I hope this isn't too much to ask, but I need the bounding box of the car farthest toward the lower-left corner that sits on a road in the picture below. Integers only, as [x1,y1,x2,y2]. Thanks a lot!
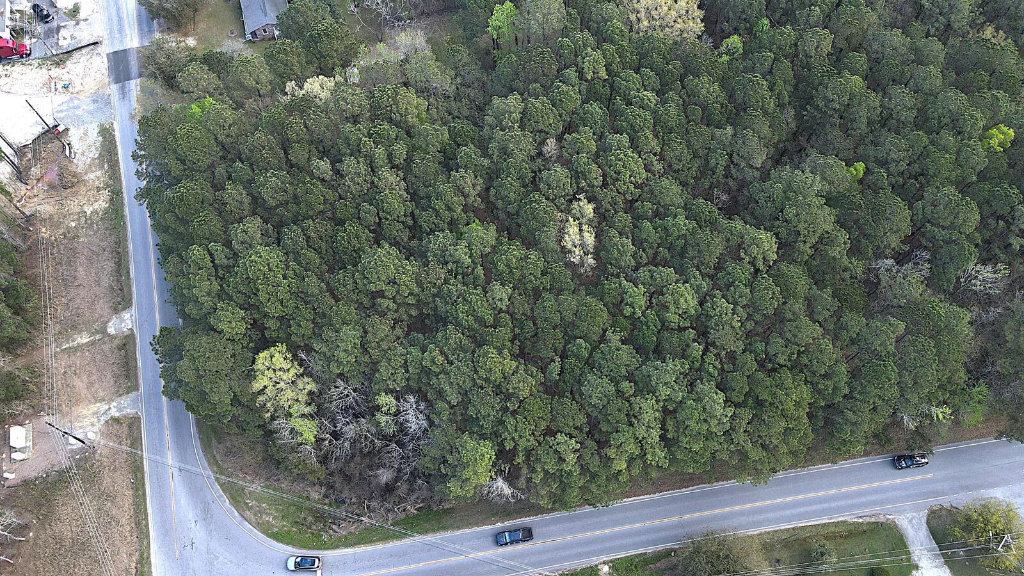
[290,554,324,572]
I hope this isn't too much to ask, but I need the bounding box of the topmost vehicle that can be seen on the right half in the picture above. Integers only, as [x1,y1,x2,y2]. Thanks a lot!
[893,451,930,470]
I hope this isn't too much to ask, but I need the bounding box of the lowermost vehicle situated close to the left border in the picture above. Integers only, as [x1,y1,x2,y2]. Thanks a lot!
[0,37,31,61]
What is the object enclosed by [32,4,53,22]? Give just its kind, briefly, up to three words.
car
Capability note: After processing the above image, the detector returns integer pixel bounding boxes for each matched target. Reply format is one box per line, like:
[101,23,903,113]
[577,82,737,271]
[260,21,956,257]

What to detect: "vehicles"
[32,4,53,22]
[0,37,31,61]
[893,451,930,470]
[496,526,533,547]
[290,554,324,572]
